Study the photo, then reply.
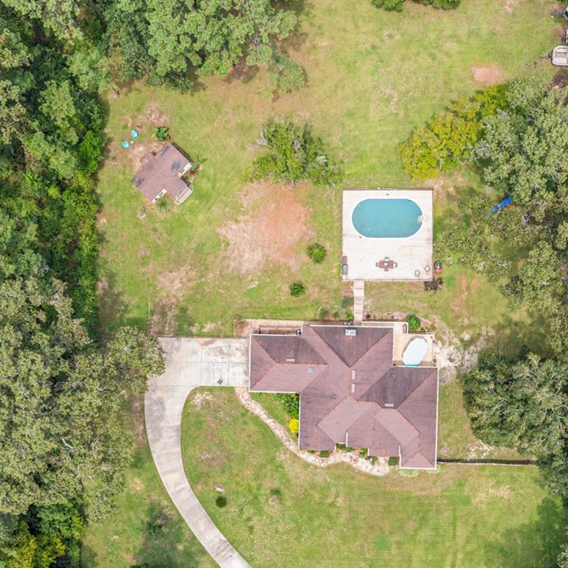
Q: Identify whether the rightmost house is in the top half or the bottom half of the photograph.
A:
bottom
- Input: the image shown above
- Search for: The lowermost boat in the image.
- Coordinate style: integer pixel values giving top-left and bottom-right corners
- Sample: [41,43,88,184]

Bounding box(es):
[491,195,512,213]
